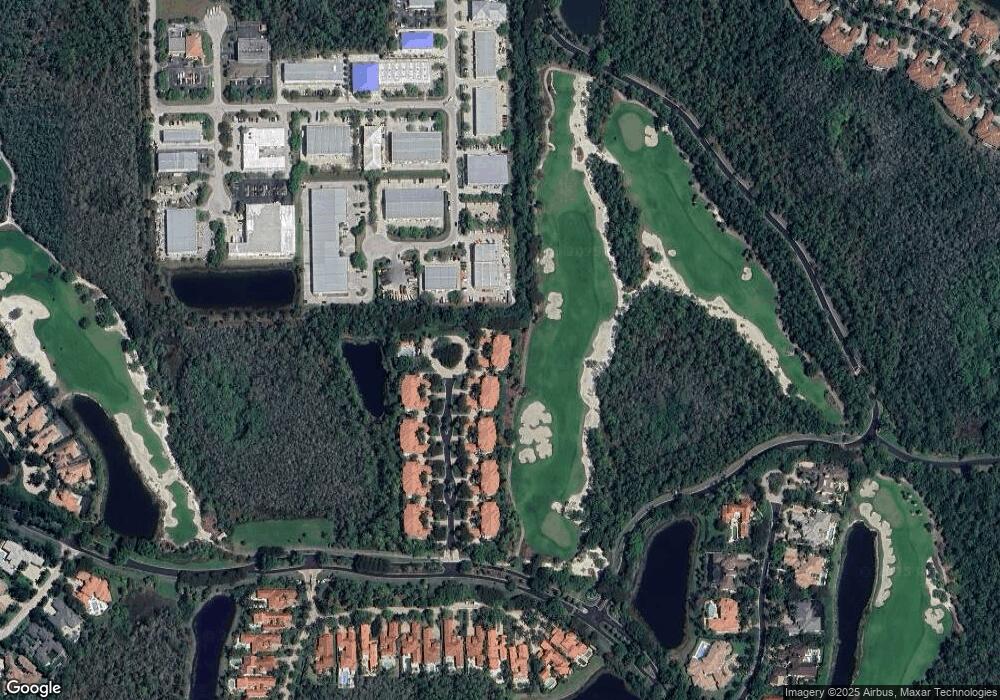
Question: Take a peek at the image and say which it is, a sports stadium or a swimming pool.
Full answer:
The image shows a swimming pool.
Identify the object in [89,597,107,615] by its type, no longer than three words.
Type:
swimming pool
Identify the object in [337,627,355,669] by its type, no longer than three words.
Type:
house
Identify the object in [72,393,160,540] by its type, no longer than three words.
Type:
pond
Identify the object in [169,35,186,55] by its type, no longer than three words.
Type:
building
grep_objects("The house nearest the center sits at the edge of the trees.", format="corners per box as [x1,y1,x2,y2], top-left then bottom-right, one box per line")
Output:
[479,334,511,369]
